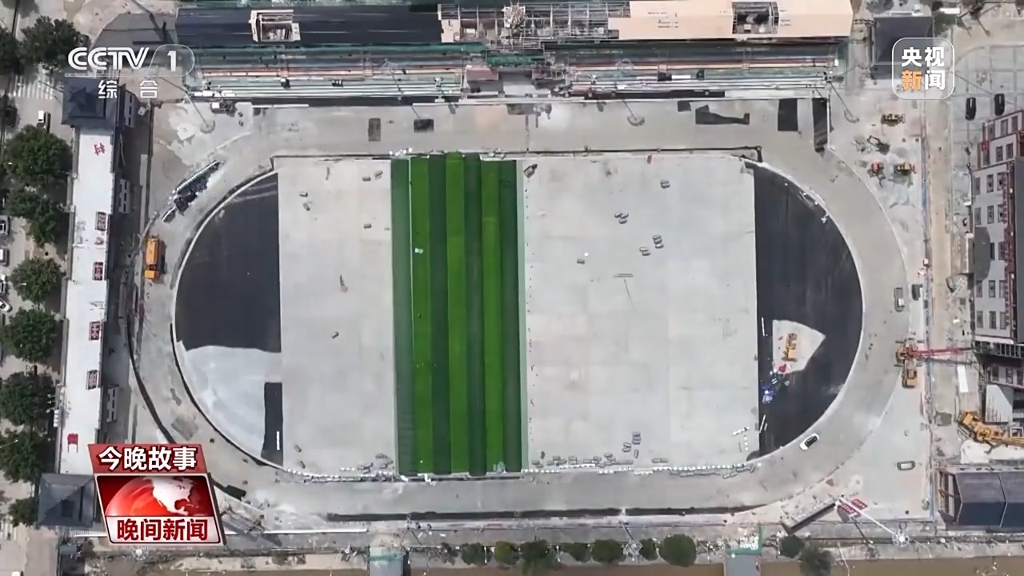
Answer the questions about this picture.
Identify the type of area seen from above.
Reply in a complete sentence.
The area seen from above is a sports ground.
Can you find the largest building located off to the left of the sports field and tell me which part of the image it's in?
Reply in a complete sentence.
The largest building located off to the left of the sports field appears toward the left of the photo.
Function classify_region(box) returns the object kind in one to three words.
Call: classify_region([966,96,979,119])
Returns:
vehicle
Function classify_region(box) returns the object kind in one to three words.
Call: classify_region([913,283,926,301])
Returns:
vehicle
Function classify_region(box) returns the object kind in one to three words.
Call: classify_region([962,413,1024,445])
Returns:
crane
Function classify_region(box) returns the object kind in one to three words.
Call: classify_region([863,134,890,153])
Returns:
work vehicle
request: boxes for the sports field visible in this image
[175,152,862,476]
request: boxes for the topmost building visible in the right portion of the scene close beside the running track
[858,12,934,88]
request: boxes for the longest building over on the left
[52,92,141,475]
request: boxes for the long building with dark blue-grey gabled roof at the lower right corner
[920,465,1024,527]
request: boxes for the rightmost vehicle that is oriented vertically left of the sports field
[142,234,160,277]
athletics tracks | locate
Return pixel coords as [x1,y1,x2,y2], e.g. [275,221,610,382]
[129,98,908,522]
